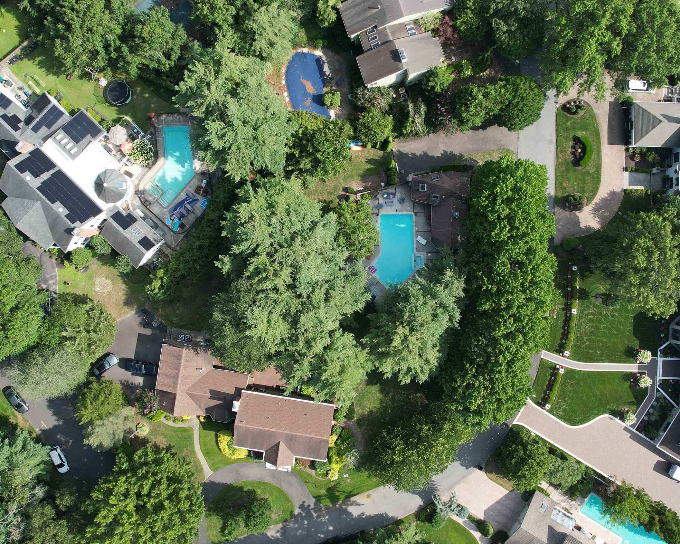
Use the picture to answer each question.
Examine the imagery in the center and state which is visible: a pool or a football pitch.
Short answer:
pool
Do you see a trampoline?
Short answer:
Yes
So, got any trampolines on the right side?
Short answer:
No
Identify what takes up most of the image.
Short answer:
trees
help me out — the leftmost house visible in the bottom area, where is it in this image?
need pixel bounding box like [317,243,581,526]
[154,343,335,471]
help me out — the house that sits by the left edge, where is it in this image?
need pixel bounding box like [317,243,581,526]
[0,86,169,266]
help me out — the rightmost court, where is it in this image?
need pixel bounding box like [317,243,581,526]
[172,0,206,36]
